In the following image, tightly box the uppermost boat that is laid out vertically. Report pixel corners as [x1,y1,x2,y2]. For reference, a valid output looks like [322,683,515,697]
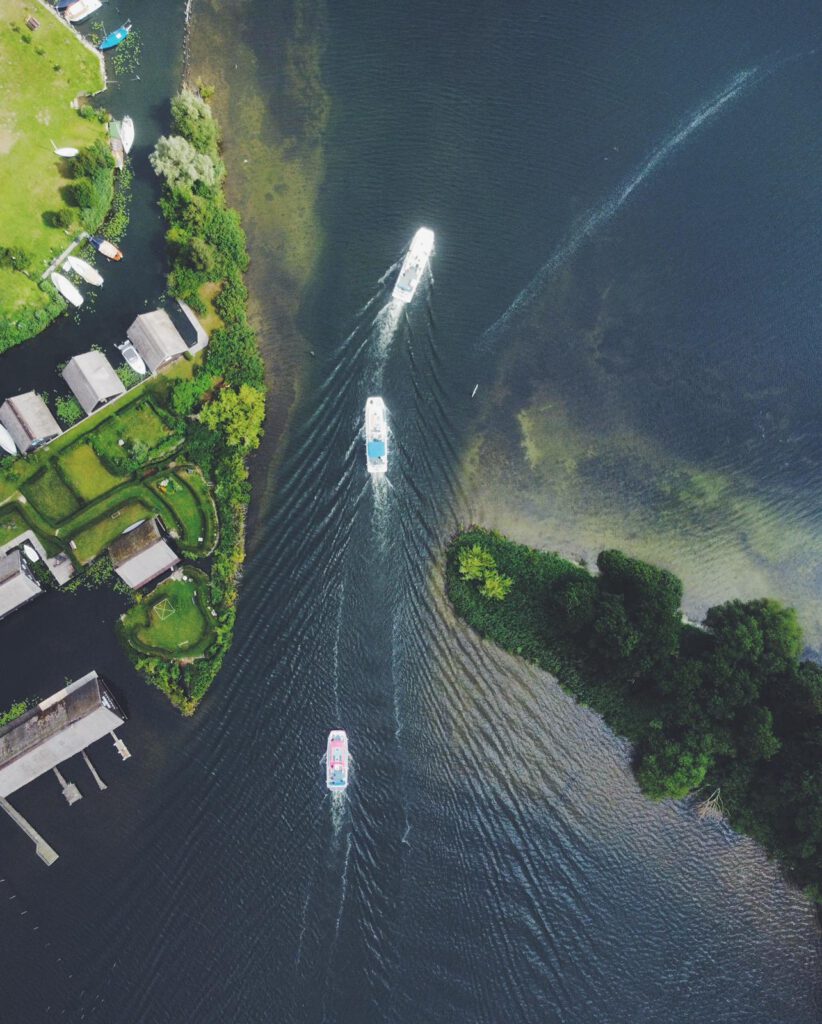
[120,116,133,154]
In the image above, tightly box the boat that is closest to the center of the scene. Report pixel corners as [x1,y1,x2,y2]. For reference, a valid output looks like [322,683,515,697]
[364,396,388,476]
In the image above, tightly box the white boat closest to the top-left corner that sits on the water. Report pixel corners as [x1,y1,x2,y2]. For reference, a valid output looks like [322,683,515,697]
[62,0,103,23]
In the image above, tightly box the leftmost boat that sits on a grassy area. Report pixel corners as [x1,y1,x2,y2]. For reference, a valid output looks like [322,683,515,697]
[50,139,79,156]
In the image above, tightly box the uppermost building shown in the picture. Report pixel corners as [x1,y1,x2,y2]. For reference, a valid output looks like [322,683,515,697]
[127,308,190,373]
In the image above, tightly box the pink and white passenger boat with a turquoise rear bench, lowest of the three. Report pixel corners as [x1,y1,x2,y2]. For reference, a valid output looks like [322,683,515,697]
[325,731,350,799]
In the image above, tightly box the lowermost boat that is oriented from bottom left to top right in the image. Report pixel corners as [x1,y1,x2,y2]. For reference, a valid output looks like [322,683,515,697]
[120,519,145,535]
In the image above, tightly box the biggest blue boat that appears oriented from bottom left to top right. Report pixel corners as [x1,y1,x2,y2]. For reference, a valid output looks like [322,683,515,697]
[99,24,133,49]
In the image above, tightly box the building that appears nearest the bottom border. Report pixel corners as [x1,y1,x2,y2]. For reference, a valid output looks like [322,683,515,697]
[0,671,128,801]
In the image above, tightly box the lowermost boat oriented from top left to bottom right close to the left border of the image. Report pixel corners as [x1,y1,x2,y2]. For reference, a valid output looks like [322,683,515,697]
[24,545,40,562]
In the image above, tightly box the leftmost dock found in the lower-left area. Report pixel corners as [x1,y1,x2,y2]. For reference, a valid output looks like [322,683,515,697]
[1,798,59,866]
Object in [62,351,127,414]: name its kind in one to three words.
building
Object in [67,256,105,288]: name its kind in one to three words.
boat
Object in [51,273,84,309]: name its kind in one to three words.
boat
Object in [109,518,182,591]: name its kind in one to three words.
building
